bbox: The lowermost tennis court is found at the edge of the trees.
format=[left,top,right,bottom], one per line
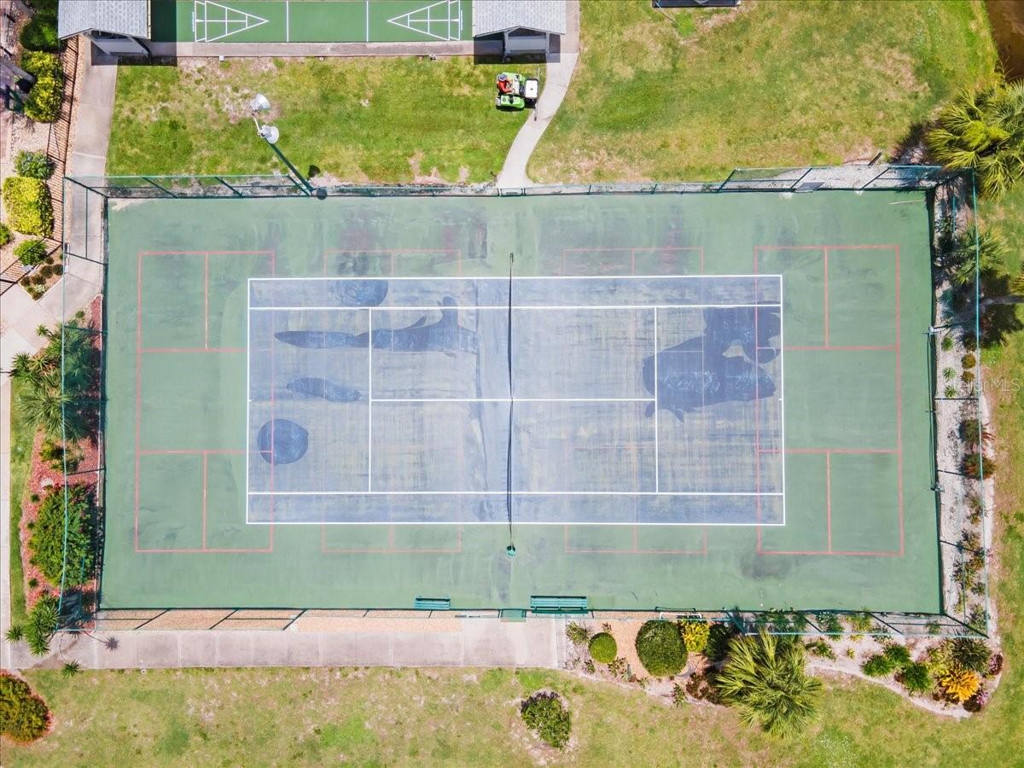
[99,189,942,613]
